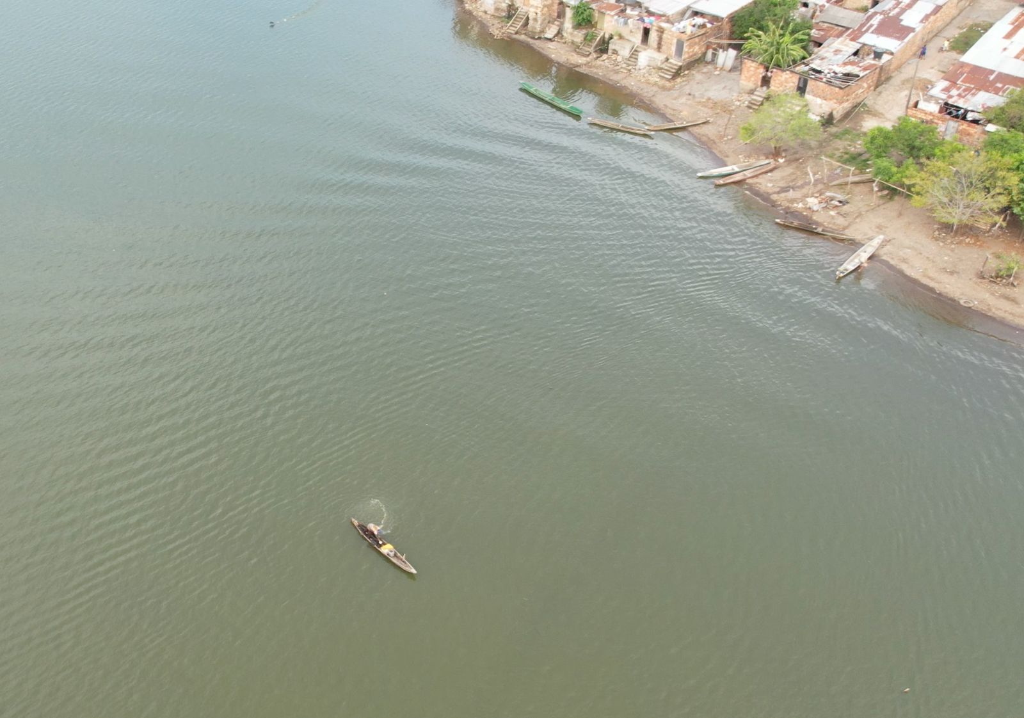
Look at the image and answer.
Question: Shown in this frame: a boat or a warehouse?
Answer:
boat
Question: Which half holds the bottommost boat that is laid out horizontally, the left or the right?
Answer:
right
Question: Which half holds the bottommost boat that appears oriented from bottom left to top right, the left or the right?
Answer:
right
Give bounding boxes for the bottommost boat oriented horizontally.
[775,220,856,242]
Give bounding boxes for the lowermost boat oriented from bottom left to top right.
[836,235,884,280]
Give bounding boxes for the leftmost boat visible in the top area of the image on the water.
[519,81,582,117]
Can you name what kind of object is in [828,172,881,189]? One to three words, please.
boat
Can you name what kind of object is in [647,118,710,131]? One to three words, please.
boat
